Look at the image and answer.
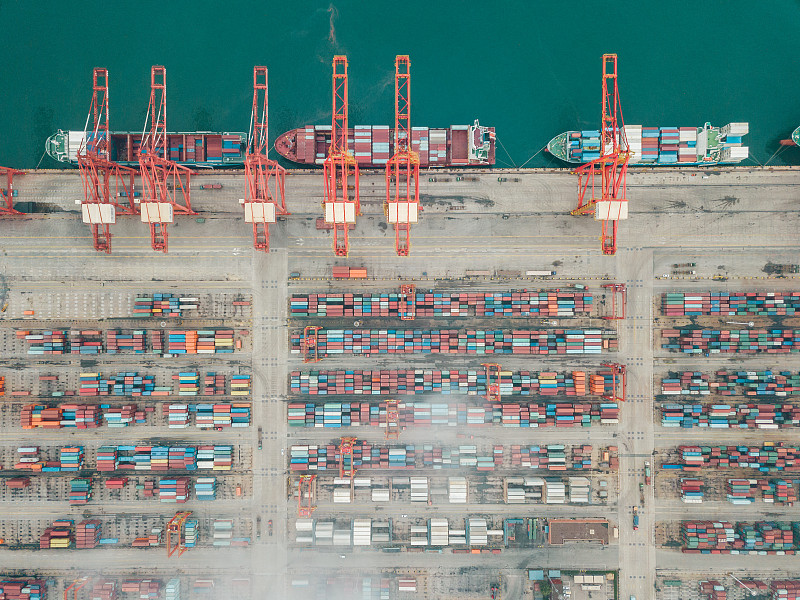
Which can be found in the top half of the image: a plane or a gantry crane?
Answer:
gantry crane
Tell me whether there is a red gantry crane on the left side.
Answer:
Yes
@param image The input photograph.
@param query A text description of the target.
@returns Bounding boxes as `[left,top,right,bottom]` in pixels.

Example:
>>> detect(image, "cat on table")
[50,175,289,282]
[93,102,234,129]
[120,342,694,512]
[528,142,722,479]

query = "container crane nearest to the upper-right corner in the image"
[569,52,633,258]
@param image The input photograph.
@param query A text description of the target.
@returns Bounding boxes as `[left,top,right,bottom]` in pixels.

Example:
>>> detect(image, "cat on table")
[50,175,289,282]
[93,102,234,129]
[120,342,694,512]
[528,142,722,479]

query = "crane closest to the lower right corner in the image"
[598,364,627,405]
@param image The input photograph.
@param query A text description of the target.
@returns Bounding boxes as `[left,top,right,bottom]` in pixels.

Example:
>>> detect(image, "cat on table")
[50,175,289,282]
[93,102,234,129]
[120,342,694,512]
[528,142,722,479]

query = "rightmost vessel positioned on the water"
[778,127,800,152]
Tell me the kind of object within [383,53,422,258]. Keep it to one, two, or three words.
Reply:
container crane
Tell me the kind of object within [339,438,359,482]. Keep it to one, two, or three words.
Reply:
container crane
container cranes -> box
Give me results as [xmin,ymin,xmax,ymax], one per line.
[385,400,403,442]
[304,326,325,365]
[339,438,359,482]
[76,66,145,251]
[320,53,364,258]
[166,512,195,558]
[0,165,26,214]
[598,364,627,405]
[479,365,502,405]
[134,66,198,251]
[569,52,633,258]
[237,66,292,251]
[399,283,417,320]
[598,284,627,321]
[298,475,320,520]
[383,53,422,258]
